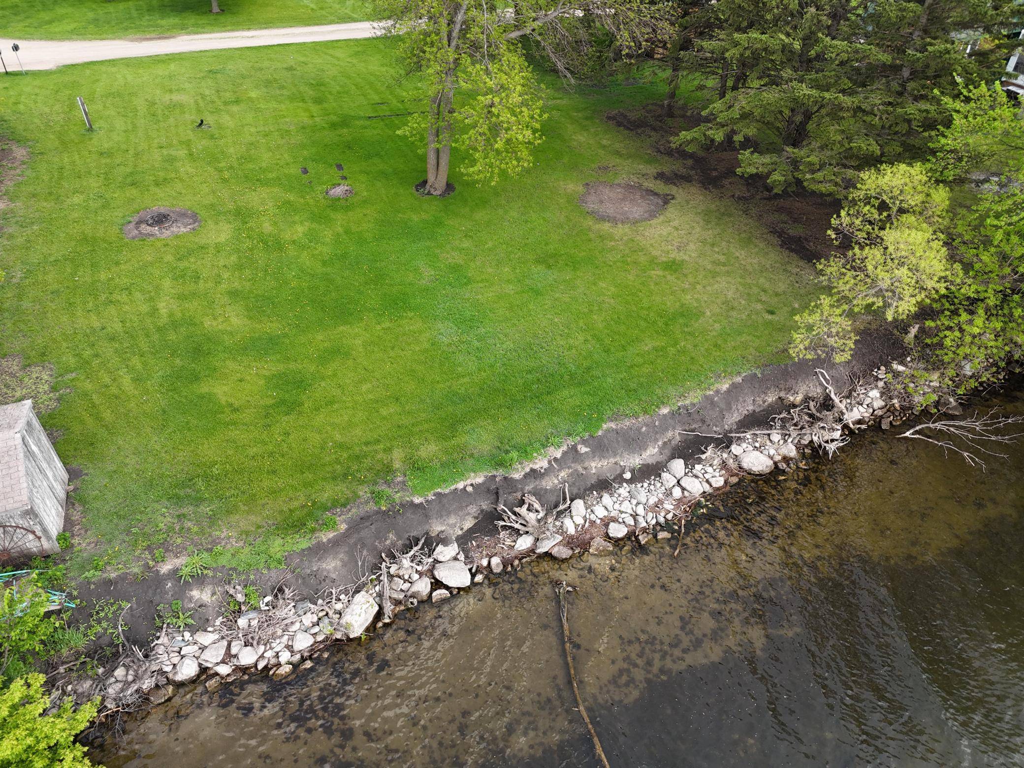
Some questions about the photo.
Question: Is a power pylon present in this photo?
No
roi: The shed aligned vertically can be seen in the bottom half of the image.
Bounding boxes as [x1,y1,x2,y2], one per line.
[0,401,69,567]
